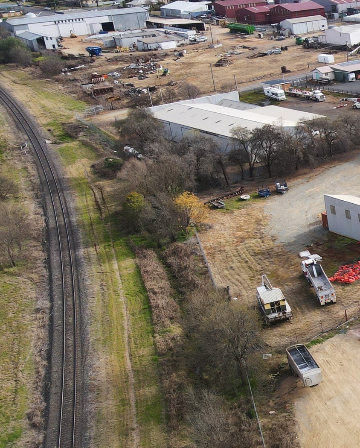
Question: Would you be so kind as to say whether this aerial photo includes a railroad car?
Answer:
No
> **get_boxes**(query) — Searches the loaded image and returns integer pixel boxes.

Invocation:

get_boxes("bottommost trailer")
[279,334,322,378]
